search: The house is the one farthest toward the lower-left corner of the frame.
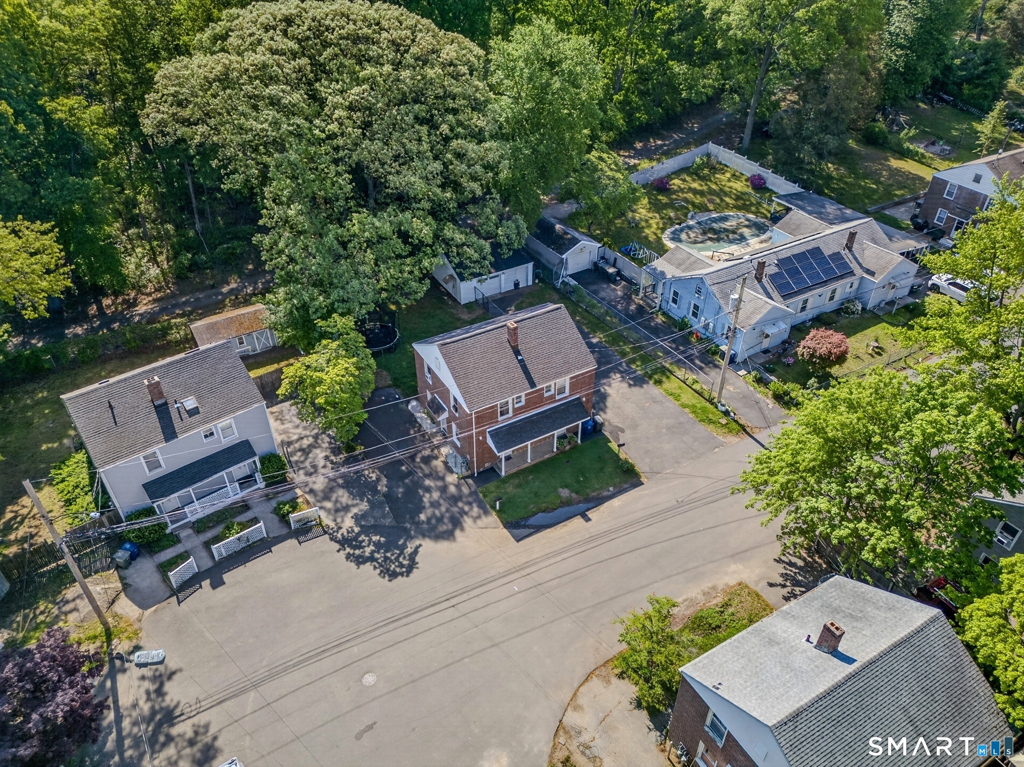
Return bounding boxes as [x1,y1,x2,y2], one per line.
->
[62,339,276,540]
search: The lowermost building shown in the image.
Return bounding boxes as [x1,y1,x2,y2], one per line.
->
[669,576,1016,767]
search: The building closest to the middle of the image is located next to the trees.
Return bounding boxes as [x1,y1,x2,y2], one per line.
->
[412,304,598,481]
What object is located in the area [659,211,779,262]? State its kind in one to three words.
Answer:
swimming pool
